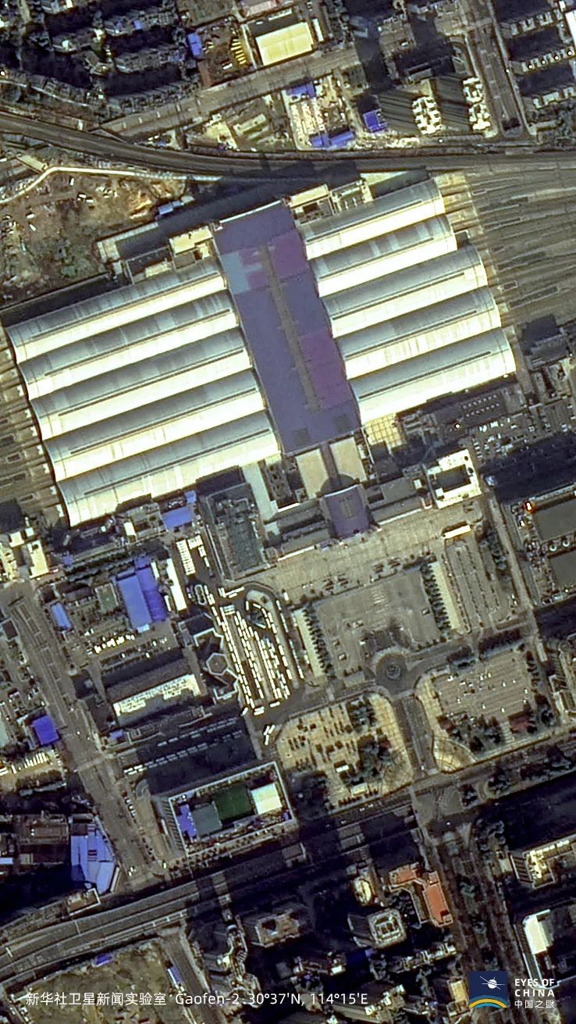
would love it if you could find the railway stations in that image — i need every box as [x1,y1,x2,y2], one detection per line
[0,166,568,559]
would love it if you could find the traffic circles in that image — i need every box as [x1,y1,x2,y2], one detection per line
[373,645,408,685]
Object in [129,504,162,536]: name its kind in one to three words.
house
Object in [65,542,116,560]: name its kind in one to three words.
shed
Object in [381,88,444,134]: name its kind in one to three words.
building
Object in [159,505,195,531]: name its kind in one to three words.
shed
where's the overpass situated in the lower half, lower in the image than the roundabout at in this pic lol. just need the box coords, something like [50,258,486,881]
[0,803,415,978]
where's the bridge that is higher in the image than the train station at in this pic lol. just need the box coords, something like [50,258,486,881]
[0,113,576,170]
